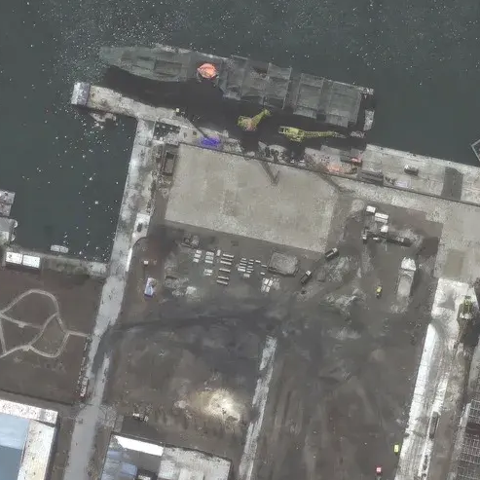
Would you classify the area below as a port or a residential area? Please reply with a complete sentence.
This image shows a port.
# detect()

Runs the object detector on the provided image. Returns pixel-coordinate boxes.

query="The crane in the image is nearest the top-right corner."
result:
[270,128,348,156]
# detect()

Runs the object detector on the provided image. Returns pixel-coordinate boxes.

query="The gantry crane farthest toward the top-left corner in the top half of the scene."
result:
[177,112,225,154]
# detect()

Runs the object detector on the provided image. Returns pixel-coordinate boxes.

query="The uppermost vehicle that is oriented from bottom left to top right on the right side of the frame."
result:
[324,246,339,259]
